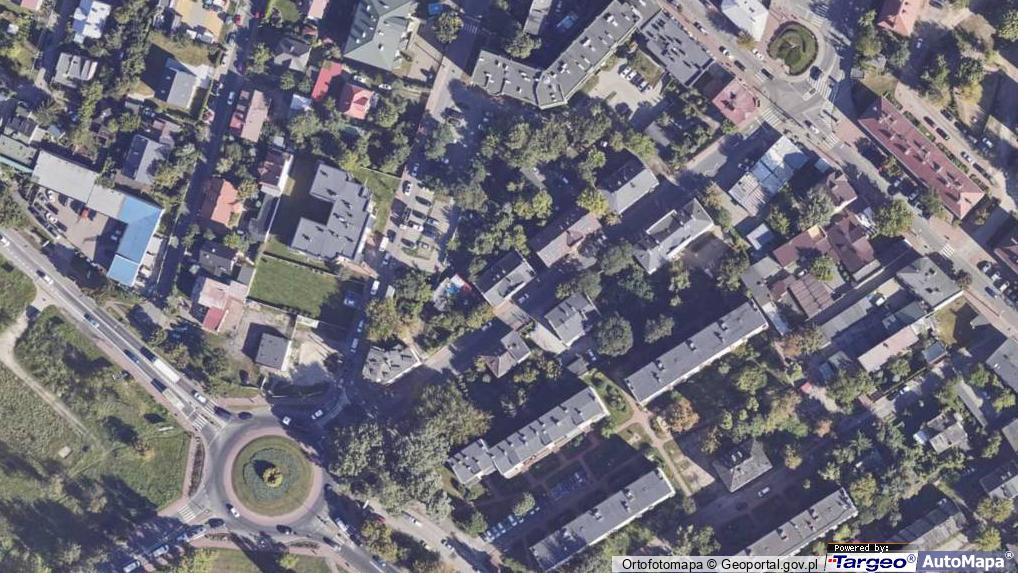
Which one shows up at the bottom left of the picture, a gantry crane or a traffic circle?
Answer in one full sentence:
Visible at the bottom left of the picture is a traffic circle.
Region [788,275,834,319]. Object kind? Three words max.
building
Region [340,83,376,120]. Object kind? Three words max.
house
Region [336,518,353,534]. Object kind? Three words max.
vehicle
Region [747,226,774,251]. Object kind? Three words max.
shed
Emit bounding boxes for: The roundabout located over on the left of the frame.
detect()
[207,410,336,541]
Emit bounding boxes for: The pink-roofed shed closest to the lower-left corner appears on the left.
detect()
[202,308,228,332]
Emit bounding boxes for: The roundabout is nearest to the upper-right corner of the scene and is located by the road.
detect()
[746,0,838,98]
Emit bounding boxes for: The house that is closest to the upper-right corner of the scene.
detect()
[877,0,922,38]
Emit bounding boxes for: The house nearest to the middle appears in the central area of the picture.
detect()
[474,252,537,307]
